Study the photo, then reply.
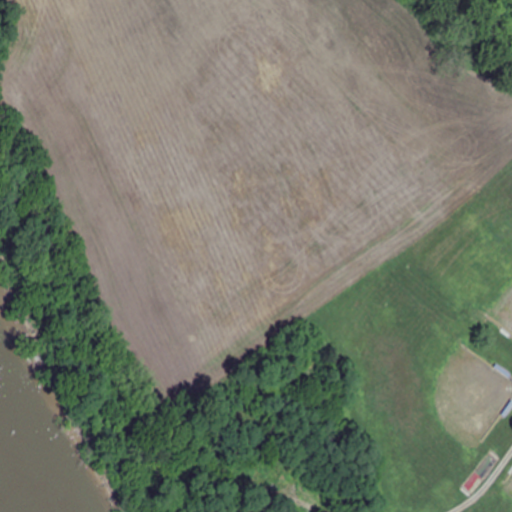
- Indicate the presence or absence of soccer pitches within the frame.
No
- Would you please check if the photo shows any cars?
No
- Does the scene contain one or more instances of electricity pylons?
No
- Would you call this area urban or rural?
rural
